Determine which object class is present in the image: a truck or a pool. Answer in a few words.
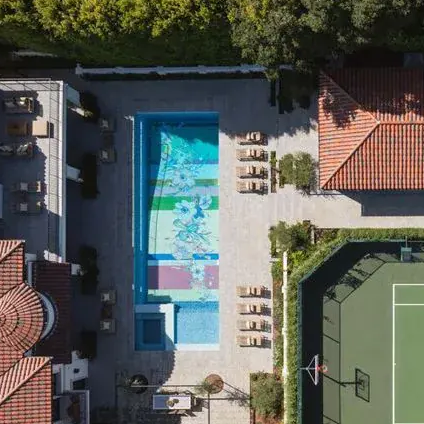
pool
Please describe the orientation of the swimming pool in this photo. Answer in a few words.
vertically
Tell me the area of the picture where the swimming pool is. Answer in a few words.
center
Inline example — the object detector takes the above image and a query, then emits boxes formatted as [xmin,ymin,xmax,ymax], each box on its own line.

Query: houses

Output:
[0,79,93,424]
[319,65,424,190]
